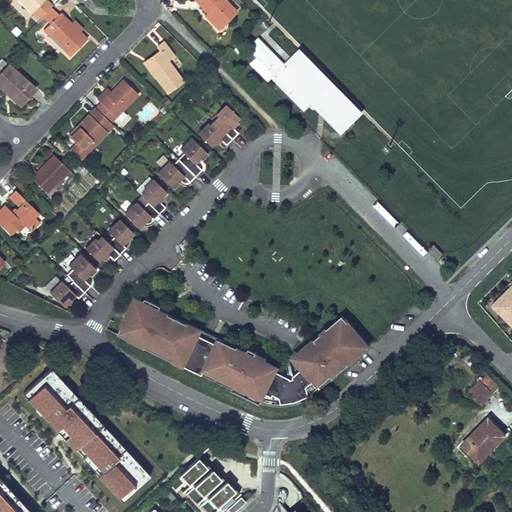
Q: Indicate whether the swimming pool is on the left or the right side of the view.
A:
left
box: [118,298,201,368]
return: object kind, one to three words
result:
building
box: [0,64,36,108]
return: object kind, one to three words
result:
house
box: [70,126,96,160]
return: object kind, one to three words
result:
house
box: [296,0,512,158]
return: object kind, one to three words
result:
soccer field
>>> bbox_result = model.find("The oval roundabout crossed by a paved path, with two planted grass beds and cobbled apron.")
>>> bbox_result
[254,144,300,193]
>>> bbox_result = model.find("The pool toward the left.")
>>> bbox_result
[136,102,160,124]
